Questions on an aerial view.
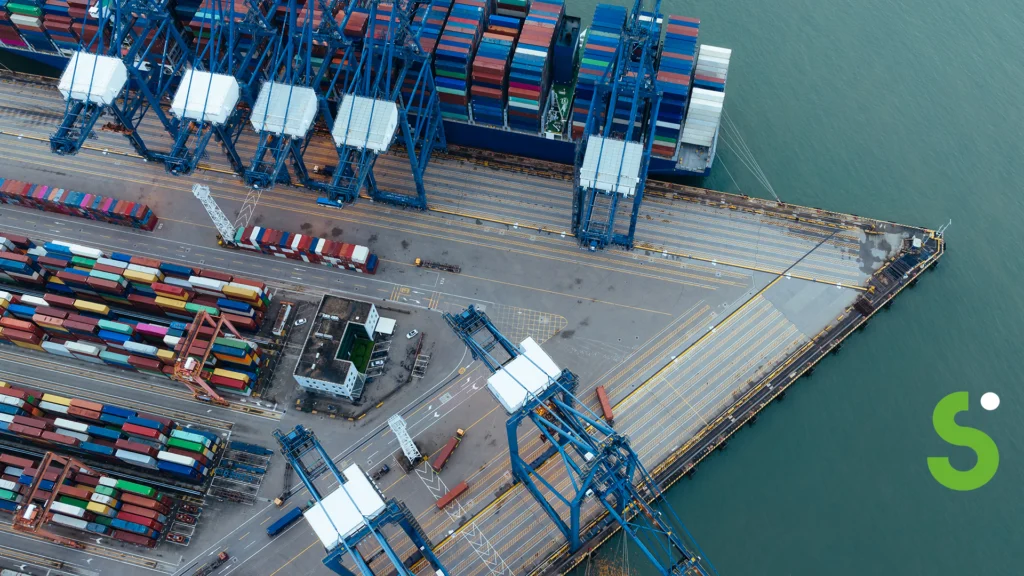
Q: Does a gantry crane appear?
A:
Yes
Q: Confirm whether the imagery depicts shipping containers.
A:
Yes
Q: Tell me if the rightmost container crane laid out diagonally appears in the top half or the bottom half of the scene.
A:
bottom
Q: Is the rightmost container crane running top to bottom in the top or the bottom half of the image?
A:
top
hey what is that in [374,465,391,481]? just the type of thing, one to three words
vehicle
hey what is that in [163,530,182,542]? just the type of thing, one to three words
vehicle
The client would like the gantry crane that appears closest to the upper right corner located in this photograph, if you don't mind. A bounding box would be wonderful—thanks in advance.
[570,0,668,248]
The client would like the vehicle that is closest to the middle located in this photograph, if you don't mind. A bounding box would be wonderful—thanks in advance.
[415,256,460,271]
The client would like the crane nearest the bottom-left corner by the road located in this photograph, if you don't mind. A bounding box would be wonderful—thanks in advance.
[2,449,92,546]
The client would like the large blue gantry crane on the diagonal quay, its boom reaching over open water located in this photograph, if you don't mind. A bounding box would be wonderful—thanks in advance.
[445,304,730,576]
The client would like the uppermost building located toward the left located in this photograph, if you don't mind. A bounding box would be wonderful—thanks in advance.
[290,294,379,399]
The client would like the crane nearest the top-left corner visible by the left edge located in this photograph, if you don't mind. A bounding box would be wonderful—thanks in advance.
[44,0,225,168]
